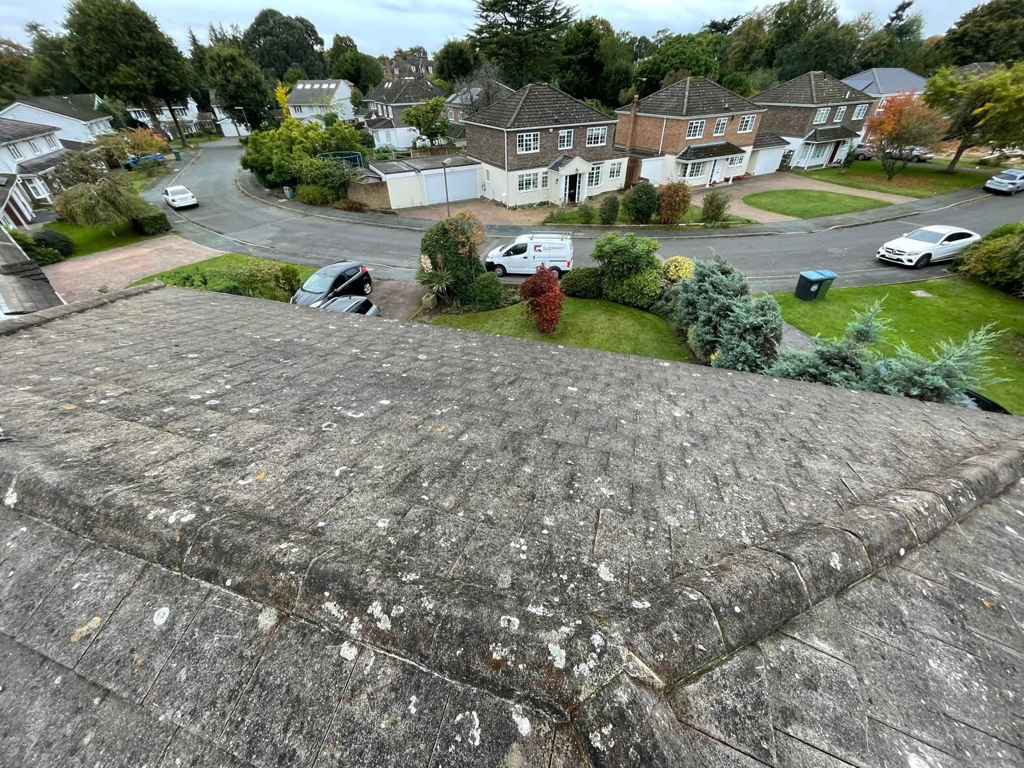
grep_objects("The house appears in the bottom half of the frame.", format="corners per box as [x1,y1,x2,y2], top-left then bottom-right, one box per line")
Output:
[0,280,1024,768]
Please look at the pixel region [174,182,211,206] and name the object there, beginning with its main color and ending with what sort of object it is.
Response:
white car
